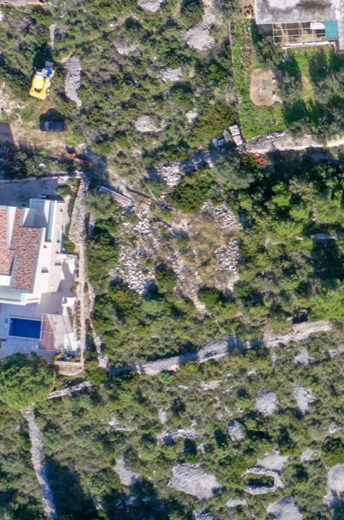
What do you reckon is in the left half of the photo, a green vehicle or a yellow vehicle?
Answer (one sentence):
There is a yellow vehicle in the left half of the photo.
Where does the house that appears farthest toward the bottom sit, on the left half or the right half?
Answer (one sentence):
You can find the house that appears farthest toward the bottom on the left side of the picture.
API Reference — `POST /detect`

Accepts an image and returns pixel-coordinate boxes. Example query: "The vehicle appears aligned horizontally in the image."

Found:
[41,118,70,132]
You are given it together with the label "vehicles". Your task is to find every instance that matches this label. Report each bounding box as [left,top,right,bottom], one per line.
[30,60,59,102]
[41,118,70,132]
